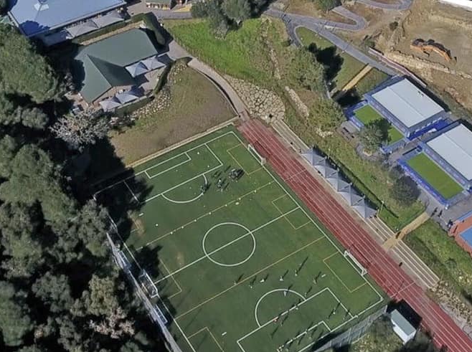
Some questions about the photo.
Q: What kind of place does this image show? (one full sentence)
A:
What you see here is a sports ground.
